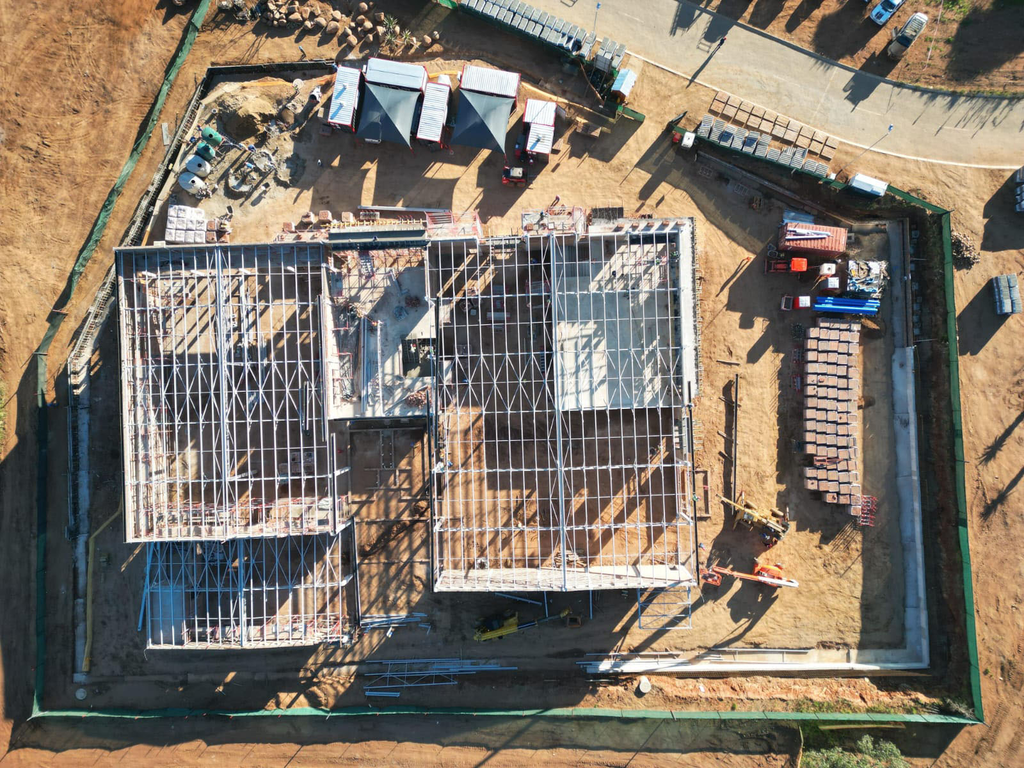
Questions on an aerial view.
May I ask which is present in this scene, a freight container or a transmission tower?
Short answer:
freight container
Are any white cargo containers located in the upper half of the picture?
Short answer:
Yes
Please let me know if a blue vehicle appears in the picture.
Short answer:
Yes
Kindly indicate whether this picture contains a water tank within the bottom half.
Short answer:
No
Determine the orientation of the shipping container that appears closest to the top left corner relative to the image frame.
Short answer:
vertically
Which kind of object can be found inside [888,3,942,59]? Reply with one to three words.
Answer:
car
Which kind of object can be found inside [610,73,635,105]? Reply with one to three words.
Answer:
shed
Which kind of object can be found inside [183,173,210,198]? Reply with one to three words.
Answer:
water tank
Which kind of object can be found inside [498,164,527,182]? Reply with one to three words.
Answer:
work vehicle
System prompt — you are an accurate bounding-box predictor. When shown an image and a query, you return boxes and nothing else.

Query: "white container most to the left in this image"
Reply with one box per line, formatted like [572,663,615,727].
[330,67,366,134]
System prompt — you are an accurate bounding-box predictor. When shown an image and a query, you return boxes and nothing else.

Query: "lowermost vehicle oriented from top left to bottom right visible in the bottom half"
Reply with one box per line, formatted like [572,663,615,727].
[724,496,793,545]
